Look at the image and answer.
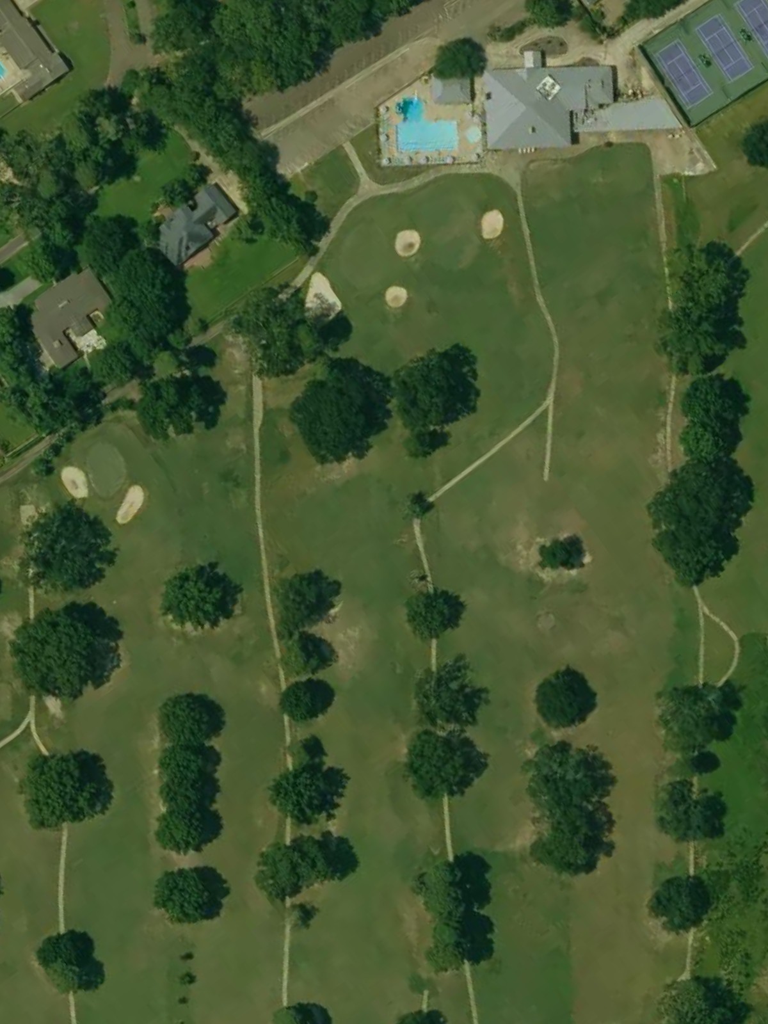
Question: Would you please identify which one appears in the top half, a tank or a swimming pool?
swimming pool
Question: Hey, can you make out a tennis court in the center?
No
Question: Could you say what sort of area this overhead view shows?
golf course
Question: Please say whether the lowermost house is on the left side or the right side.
left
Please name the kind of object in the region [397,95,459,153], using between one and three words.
swimming pool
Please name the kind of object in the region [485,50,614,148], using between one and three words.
building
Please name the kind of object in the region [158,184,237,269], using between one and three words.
house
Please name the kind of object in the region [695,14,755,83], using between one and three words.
tennis court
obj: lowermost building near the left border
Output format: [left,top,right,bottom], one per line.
[33,265,111,370]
